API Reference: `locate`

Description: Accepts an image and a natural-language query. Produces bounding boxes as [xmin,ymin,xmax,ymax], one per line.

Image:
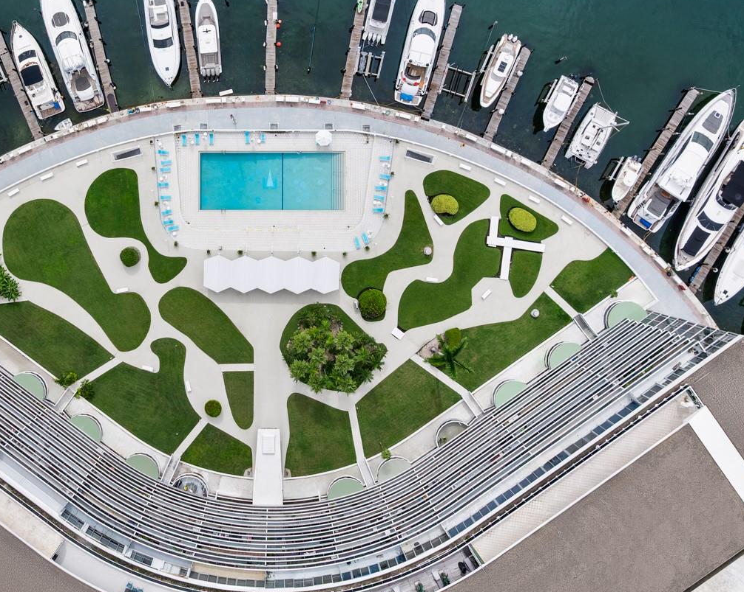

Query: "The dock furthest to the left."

[0,29,46,138]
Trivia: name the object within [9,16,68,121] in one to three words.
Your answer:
boat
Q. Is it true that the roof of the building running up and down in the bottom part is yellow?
No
